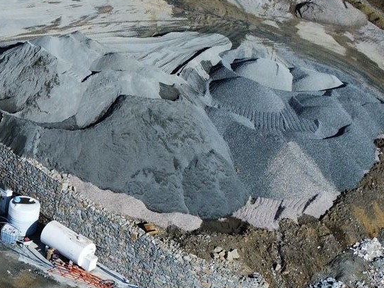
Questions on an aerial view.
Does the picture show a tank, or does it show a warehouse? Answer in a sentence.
This aerial view contains a tank.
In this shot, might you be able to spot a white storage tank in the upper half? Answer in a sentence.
No, looking in the upper half, there is no white storage tank.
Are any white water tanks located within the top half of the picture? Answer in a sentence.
No, no white water tank appears within the top half of the picture.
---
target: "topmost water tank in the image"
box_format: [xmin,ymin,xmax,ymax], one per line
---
[8,196,39,238]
